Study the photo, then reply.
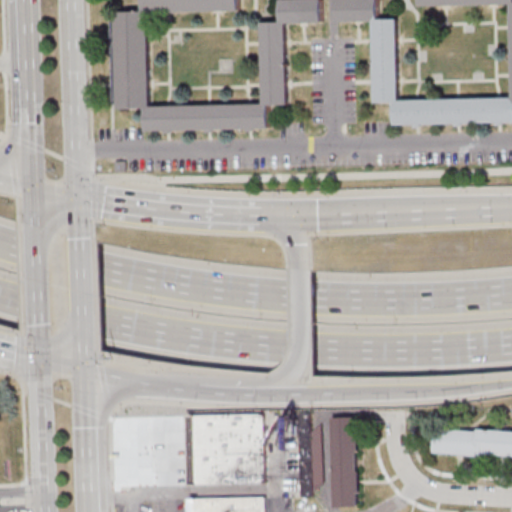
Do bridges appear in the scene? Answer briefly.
Yes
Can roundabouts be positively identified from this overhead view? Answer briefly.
No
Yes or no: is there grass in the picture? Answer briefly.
Yes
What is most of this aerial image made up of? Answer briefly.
paved ground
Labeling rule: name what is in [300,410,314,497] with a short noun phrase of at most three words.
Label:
shed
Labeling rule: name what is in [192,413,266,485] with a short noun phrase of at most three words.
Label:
building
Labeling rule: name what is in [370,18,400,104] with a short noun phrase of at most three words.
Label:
building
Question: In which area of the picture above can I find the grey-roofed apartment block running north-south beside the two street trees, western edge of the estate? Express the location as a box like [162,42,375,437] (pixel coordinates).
[110,11,150,108]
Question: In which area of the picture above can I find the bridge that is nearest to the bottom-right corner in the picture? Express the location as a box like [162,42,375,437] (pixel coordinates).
[269,267,314,376]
